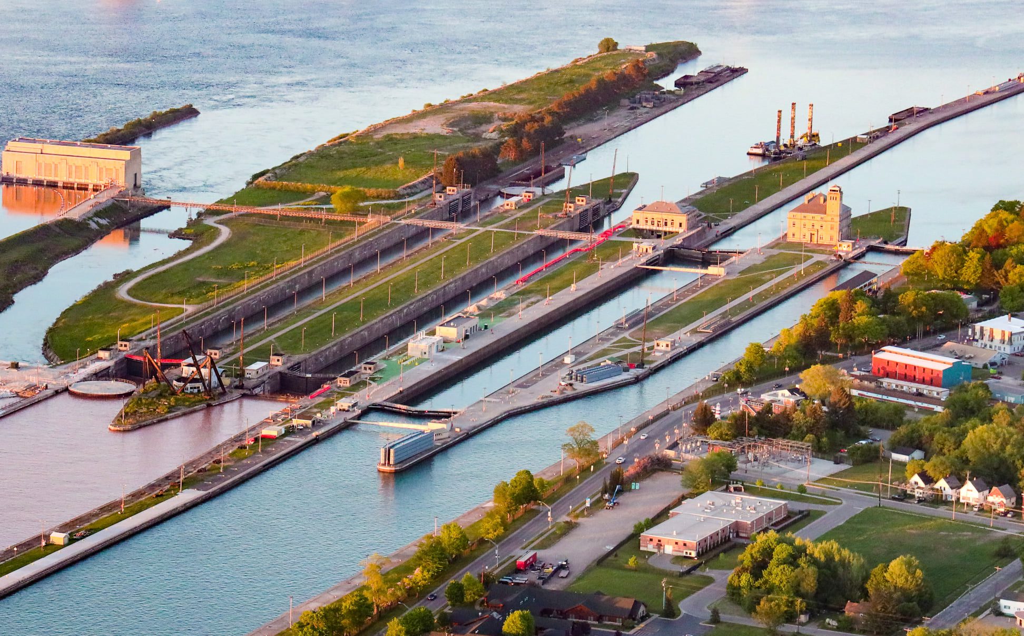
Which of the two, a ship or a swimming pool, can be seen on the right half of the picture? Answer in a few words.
ship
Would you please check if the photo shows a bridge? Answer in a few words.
Yes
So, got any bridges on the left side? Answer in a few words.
Yes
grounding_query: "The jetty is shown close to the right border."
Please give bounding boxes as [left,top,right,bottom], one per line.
[661,76,1024,258]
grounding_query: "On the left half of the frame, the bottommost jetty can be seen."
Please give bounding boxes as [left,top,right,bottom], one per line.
[0,223,702,598]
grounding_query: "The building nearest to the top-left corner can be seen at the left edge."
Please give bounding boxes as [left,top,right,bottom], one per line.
[0,138,141,191]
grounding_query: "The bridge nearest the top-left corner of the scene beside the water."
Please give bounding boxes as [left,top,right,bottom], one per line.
[115,186,390,222]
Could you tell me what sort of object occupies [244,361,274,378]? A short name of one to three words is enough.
shed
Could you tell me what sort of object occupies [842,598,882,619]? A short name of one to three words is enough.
house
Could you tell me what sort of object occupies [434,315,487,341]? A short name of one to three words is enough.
building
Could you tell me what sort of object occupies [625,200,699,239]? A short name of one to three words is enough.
building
